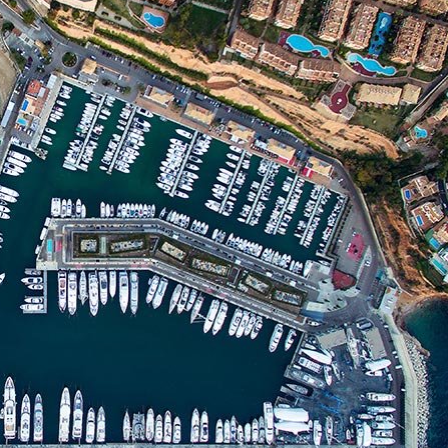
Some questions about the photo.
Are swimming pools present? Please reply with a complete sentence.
Yes, the frame does contain a swimming pool.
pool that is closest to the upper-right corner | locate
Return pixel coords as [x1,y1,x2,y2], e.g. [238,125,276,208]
[368,12,392,55]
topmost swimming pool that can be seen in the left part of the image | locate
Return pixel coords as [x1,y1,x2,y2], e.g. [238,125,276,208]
[141,5,170,33]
